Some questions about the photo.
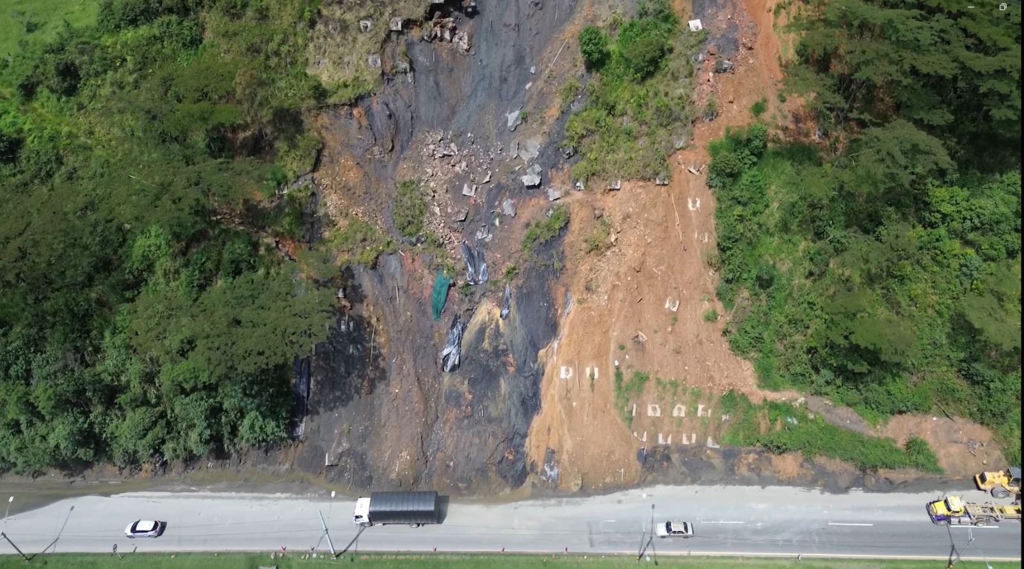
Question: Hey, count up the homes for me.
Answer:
none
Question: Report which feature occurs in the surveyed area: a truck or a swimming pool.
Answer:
truck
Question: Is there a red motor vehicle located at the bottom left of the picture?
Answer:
No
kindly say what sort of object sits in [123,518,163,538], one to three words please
car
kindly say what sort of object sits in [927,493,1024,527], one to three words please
truck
